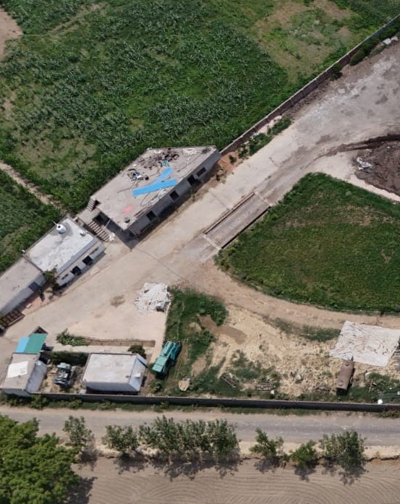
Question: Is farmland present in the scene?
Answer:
Yes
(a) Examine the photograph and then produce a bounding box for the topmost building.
[92,146,227,241]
